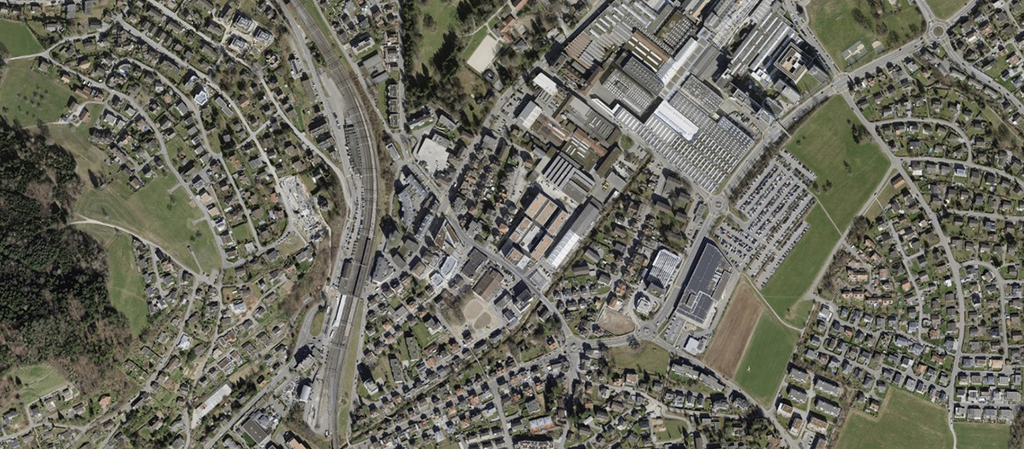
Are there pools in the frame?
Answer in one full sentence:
No, the scene contains no pool.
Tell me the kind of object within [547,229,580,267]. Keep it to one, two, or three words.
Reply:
building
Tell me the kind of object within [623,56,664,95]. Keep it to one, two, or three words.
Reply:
building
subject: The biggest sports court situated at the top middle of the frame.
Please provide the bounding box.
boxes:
[467,35,499,73]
